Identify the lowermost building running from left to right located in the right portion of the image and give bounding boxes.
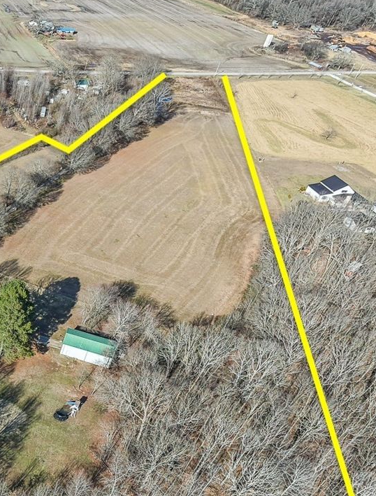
[301,176,357,202]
